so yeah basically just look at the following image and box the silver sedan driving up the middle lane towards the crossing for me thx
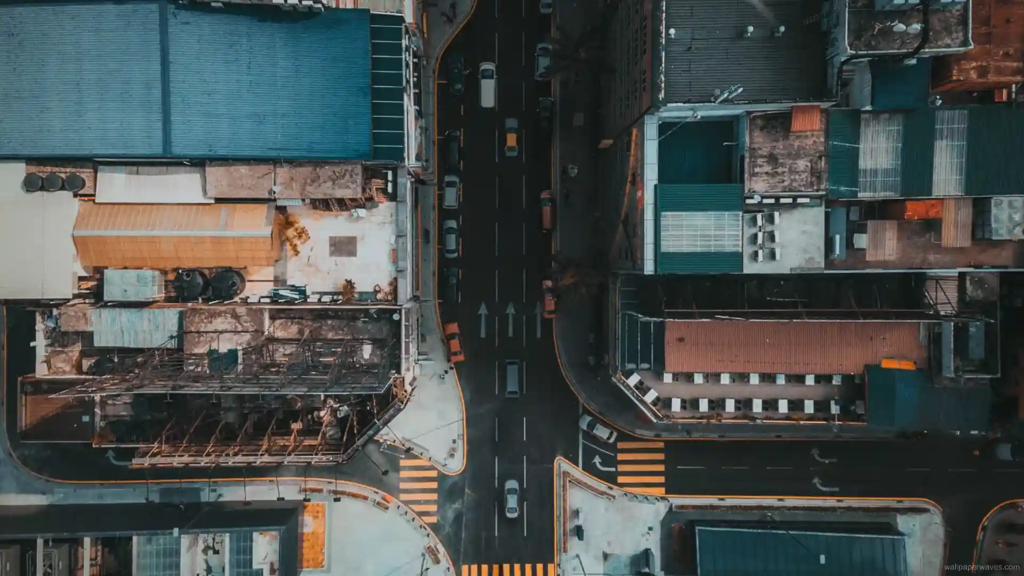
[502,479,521,518]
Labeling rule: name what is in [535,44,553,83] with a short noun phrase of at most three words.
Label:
car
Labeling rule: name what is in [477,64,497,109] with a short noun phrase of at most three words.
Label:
vehicle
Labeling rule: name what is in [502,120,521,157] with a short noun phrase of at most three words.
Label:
car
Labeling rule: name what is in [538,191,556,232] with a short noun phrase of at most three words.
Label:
vehicle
